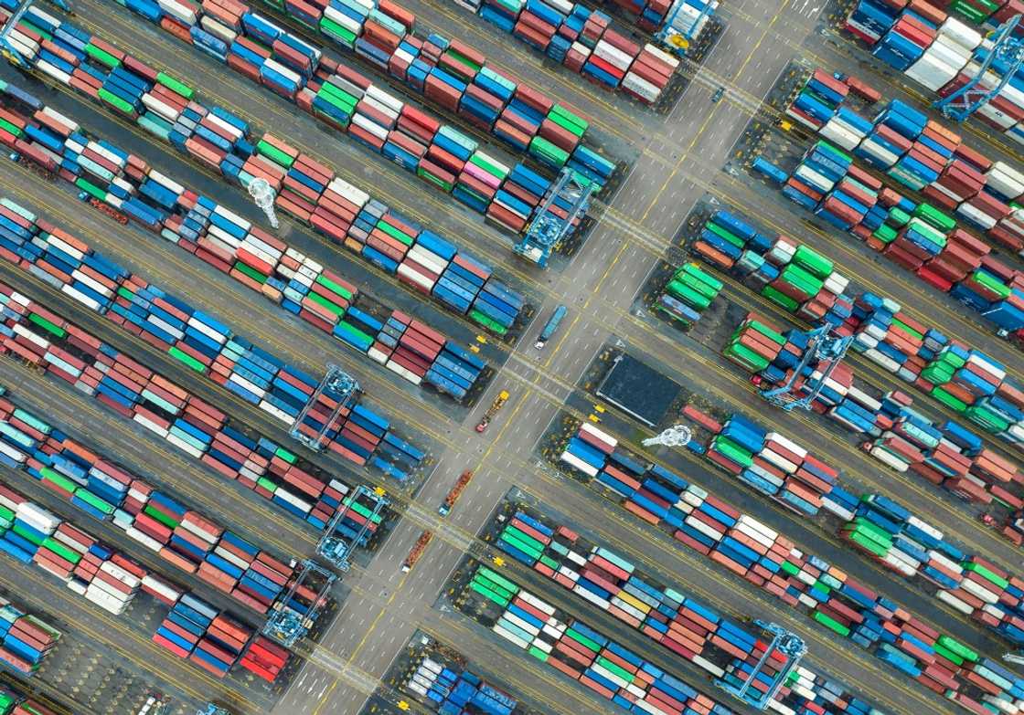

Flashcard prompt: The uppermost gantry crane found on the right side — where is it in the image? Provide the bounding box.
[650,0,725,63]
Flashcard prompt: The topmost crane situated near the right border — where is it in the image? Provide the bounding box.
[933,14,1024,129]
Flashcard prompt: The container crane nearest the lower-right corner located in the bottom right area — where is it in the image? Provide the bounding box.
[708,615,811,715]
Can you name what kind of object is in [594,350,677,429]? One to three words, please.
shed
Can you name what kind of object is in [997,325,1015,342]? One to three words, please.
vehicle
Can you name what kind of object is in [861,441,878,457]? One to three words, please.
vehicle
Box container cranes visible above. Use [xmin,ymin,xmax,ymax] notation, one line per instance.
[754,316,858,416]
[184,695,229,715]
[933,14,1024,129]
[258,556,345,654]
[650,0,725,63]
[510,163,596,273]
[0,0,77,75]
[312,481,395,574]
[286,362,369,458]
[708,615,811,715]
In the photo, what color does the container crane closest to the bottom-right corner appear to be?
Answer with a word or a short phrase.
blue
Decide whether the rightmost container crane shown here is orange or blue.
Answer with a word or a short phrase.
blue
